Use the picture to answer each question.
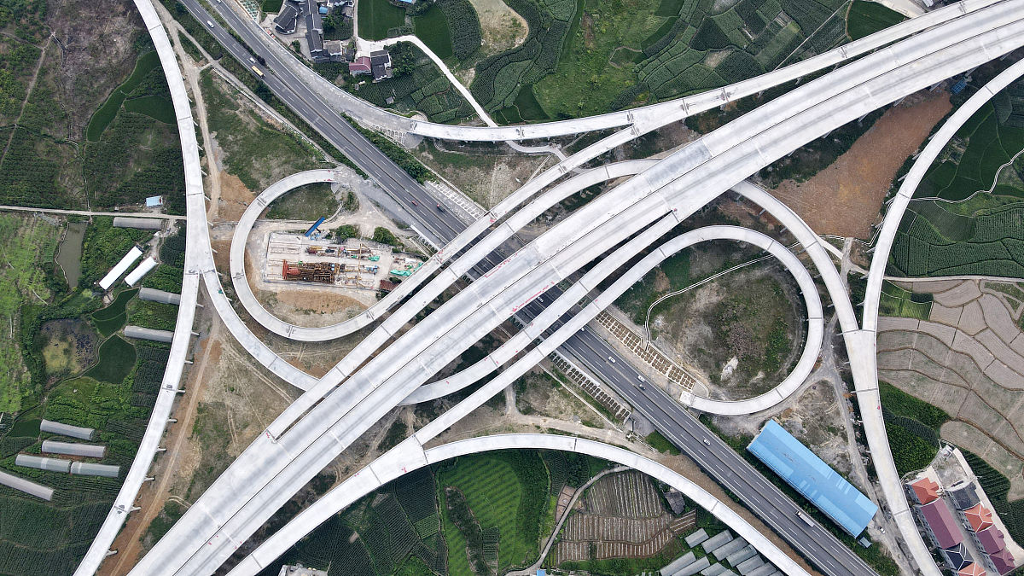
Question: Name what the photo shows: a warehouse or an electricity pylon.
warehouse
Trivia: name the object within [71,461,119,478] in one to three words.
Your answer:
greenhouse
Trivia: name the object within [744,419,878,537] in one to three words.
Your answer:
warehouse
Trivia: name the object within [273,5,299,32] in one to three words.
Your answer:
house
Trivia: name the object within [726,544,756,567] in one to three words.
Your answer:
greenhouse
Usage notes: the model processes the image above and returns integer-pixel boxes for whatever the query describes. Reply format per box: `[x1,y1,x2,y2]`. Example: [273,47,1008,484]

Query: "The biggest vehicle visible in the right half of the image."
[795,510,817,529]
